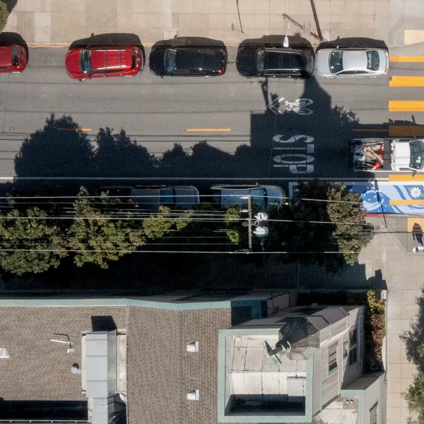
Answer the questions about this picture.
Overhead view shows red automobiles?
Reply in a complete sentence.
Yes, a red automobile is visible in the scene.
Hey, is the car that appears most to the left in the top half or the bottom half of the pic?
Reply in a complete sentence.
Seen from above, the car that appears most to the left lies in the top half of the view.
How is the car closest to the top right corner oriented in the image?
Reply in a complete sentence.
Seen from above, the car closest to the top right corner lies from left to right.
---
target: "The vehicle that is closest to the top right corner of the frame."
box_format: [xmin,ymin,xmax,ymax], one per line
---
[315,44,390,81]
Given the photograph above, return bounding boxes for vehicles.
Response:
[209,180,287,214]
[0,43,33,75]
[67,43,147,81]
[236,43,315,81]
[151,43,230,79]
[348,134,424,174]
[315,44,390,81]
[103,179,199,213]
